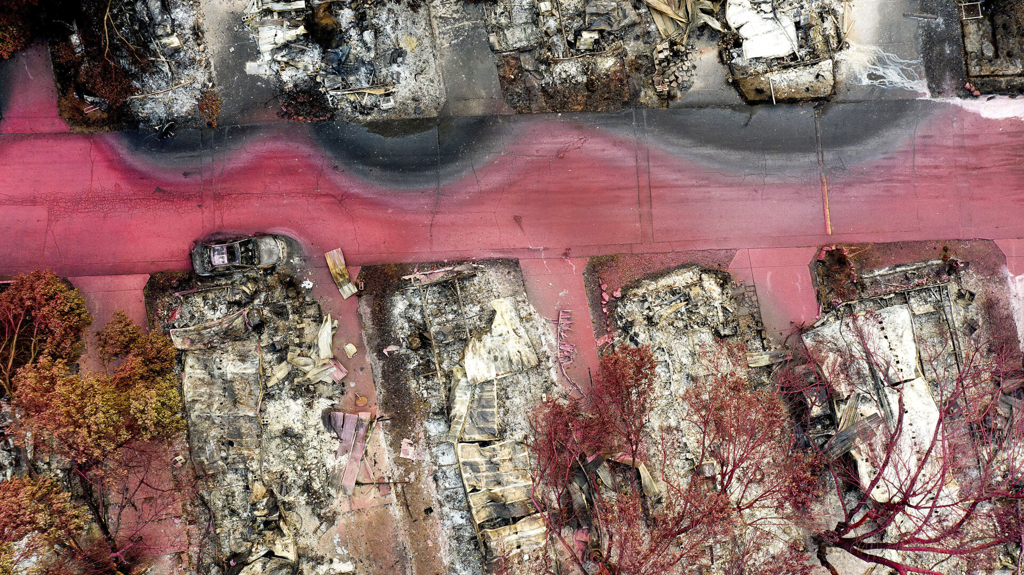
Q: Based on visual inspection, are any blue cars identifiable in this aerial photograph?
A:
No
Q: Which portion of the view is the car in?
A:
left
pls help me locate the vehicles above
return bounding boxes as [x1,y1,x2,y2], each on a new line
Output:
[189,233,290,276]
